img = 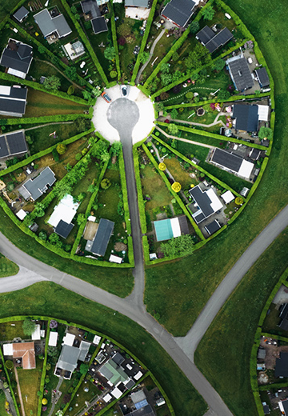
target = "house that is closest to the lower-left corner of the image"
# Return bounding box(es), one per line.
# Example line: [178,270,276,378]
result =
[3,342,35,369]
